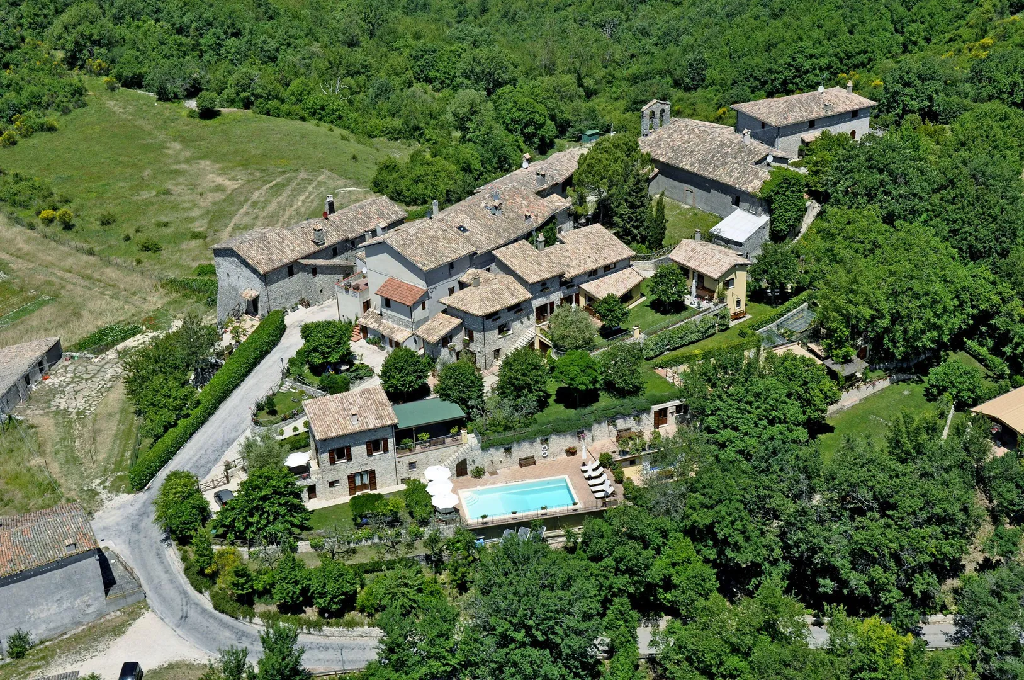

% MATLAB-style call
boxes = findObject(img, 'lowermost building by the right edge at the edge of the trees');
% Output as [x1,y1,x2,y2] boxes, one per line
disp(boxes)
[965,386,1024,471]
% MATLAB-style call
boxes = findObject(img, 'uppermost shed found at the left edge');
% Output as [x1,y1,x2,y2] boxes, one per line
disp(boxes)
[0,324,59,422]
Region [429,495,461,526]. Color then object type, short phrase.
white umbrella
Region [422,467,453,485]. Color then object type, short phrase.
white umbrella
